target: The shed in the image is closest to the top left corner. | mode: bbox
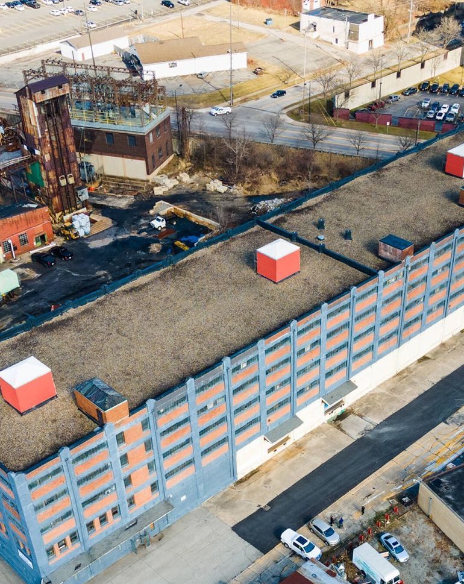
[59,27,129,61]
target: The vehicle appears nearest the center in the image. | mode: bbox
[150,216,178,230]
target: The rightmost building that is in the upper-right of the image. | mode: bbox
[300,7,384,53]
